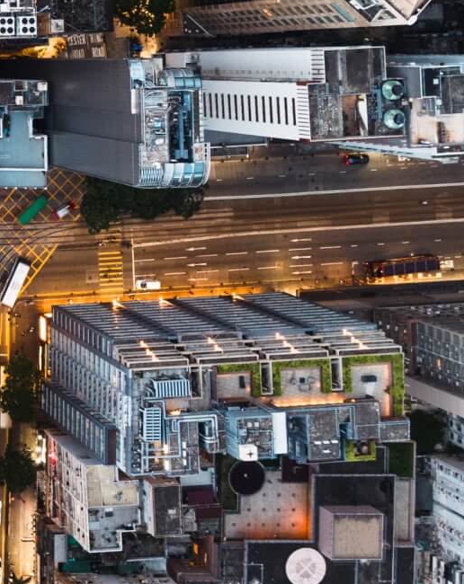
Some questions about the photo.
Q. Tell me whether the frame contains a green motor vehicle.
Yes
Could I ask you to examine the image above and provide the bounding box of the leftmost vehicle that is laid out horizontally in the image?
[134,277,163,290]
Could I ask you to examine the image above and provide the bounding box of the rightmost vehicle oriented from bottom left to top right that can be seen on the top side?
[52,199,78,220]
